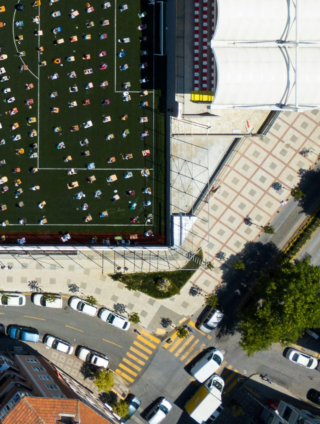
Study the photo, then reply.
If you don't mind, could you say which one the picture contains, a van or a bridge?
van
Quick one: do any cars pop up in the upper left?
No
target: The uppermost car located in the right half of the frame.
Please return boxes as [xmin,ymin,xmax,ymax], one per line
[197,306,225,338]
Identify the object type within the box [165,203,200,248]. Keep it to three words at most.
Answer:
shed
